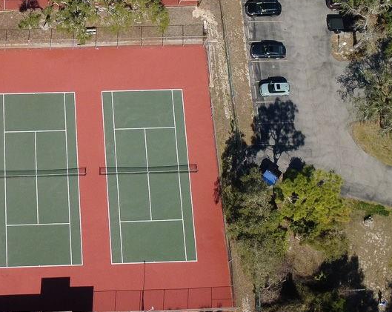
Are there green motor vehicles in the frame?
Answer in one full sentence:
No, I find no green motor vehicle anywhere in the image.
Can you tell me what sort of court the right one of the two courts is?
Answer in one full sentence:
The right one of the two courts is a tennis court.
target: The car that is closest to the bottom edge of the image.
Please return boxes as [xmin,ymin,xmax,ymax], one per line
[260,79,292,97]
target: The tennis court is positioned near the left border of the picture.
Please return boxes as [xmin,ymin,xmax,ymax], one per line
[0,91,83,269]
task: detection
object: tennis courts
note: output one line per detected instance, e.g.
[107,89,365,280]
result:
[0,91,83,269]
[101,89,198,264]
